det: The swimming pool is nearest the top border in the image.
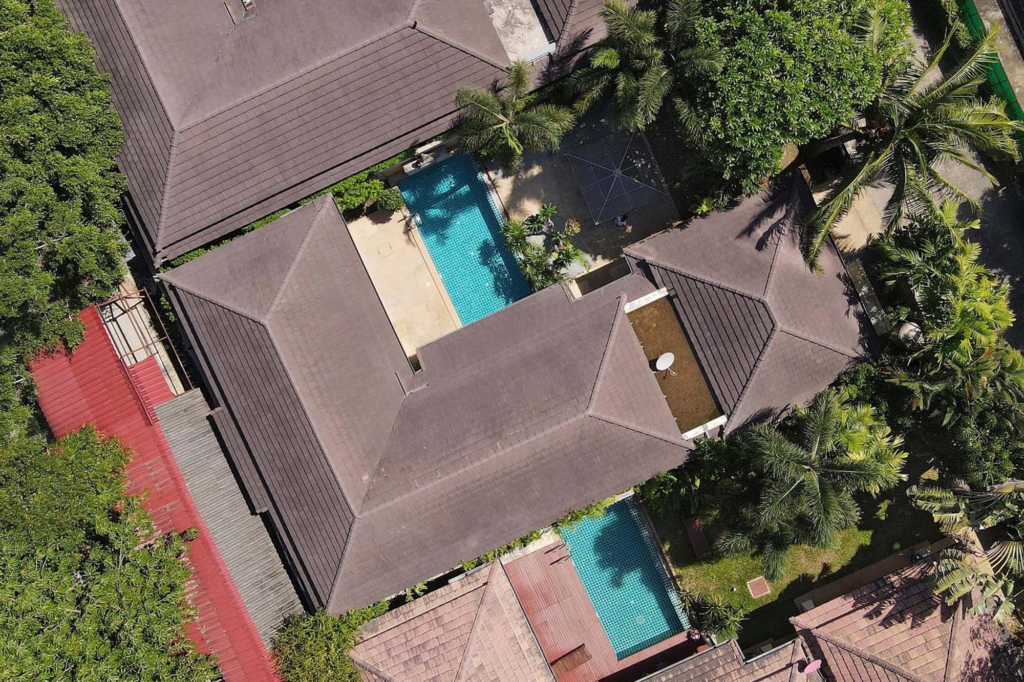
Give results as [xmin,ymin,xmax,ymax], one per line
[395,150,543,330]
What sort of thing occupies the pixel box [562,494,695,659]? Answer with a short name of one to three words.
swimming pool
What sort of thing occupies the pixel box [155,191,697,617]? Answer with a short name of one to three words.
house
